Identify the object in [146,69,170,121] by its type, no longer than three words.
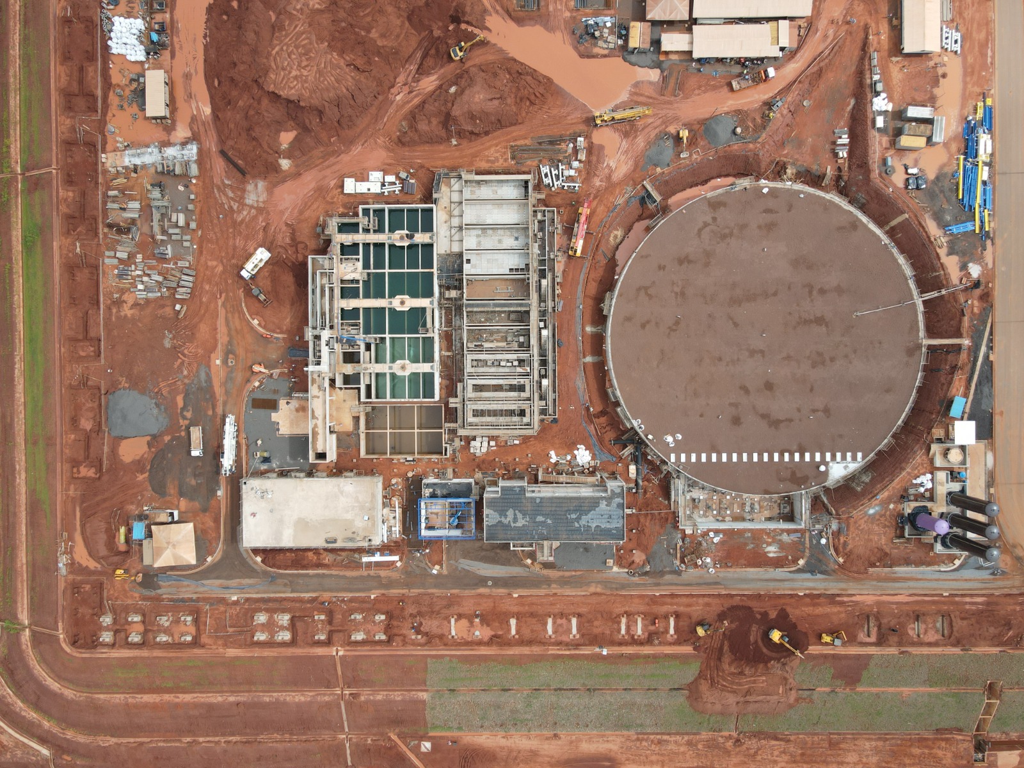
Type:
shed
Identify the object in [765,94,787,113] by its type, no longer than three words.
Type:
work vehicle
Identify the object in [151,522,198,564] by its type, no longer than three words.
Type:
building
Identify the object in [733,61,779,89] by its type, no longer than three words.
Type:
truck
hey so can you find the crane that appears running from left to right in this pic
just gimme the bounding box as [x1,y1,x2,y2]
[594,104,656,125]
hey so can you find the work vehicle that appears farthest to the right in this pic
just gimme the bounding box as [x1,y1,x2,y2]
[821,634,843,646]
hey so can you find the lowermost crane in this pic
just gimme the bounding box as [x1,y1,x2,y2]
[216,414,237,475]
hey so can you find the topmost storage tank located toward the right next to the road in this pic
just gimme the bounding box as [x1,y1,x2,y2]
[603,178,928,497]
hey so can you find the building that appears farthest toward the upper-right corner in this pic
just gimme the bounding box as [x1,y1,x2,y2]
[897,0,941,56]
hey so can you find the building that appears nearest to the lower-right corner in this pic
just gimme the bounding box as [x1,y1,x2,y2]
[484,473,629,562]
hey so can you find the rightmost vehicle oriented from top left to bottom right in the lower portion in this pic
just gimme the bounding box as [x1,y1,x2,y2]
[771,630,810,664]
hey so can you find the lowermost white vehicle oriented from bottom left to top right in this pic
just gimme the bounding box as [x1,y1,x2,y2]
[235,244,271,280]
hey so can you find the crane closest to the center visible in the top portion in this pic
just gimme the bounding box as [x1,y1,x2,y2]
[563,196,598,256]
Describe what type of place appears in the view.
industrial area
